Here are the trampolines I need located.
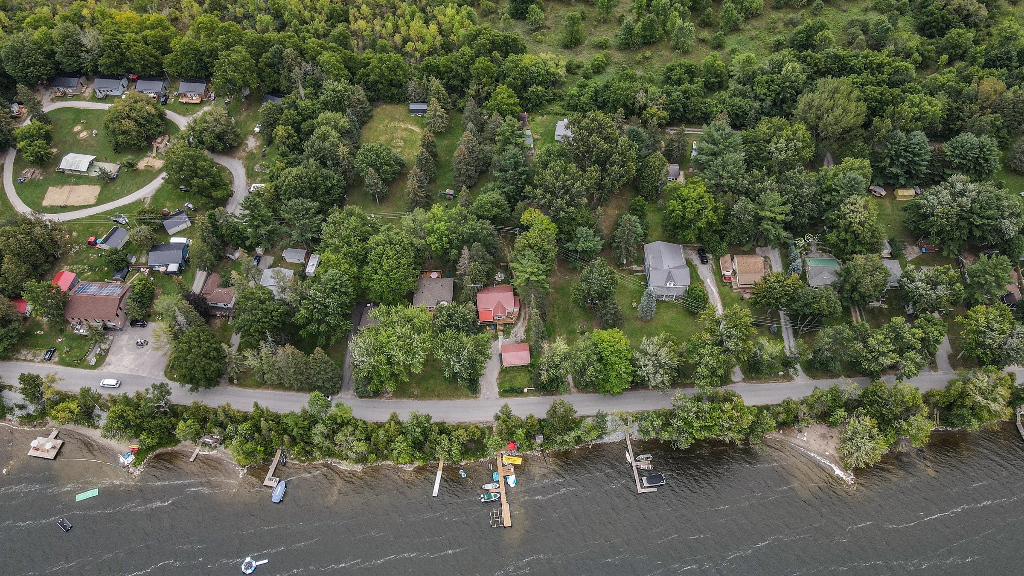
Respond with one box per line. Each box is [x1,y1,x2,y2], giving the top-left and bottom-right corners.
[239,552,257,575]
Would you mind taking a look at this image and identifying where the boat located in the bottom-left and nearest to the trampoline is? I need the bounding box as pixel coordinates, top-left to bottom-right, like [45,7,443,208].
[271,481,288,505]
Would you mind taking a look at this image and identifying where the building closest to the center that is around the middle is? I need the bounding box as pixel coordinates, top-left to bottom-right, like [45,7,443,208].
[476,282,520,321]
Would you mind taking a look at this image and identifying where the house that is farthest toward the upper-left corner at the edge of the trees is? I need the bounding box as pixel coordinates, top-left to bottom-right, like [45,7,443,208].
[51,74,90,94]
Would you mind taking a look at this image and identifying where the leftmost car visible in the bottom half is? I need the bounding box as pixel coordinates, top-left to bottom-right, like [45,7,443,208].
[44,346,57,362]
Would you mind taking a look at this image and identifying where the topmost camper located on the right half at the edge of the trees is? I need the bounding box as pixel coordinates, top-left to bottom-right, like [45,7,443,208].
[869,184,887,196]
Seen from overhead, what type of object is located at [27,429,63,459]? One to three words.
pier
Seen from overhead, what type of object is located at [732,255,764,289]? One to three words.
house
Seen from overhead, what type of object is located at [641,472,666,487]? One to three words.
boat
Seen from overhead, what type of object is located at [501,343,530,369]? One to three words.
building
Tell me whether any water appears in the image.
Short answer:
Yes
